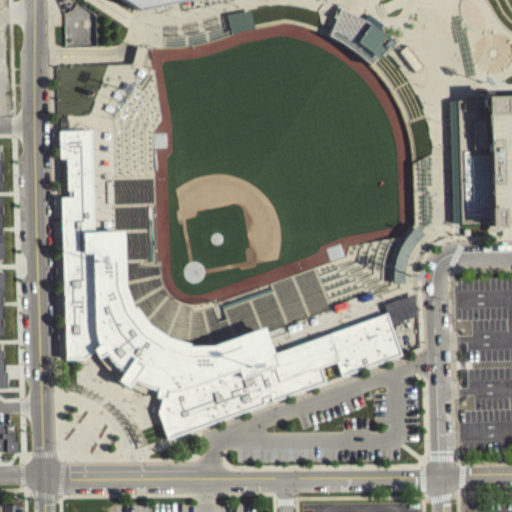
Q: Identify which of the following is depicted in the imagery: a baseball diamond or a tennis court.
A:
baseball diamond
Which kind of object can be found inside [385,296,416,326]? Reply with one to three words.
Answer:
building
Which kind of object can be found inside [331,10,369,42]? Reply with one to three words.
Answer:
building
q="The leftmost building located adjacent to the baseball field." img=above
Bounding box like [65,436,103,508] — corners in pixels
[58,130,97,361]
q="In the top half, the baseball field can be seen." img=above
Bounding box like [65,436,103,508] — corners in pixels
[151,26,412,308]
